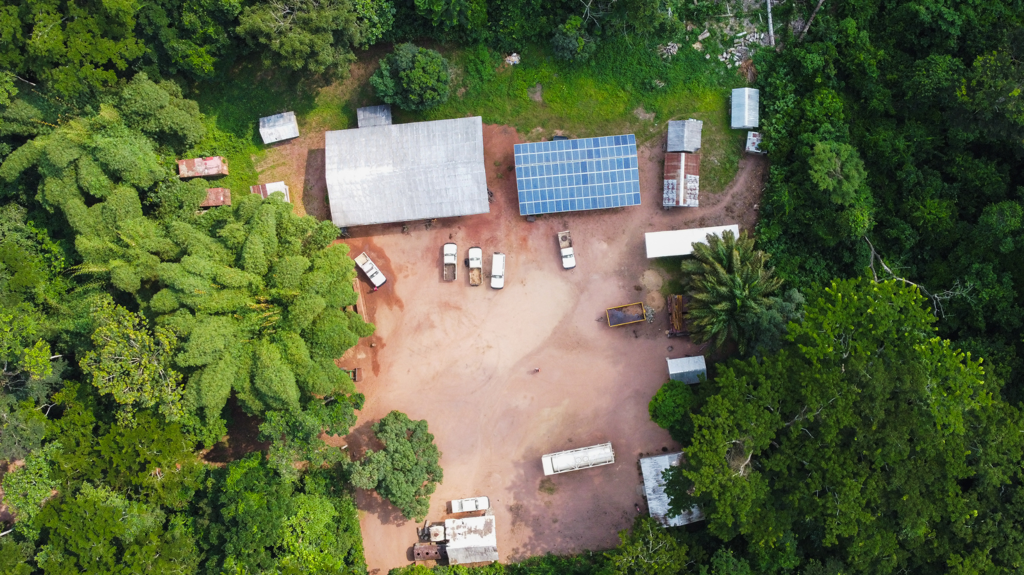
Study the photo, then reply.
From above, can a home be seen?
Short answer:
Yes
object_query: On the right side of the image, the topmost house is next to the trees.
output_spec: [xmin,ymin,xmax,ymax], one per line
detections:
[729,87,759,128]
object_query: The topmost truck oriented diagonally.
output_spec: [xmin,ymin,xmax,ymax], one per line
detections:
[355,251,386,288]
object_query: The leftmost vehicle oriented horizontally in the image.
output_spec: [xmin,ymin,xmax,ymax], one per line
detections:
[450,495,491,513]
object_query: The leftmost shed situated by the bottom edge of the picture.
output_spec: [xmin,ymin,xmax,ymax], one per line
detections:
[445,514,498,565]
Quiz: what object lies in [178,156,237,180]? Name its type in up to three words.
building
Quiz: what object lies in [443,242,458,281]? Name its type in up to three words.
vehicle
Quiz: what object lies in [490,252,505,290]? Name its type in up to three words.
car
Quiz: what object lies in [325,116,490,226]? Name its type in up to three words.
barn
